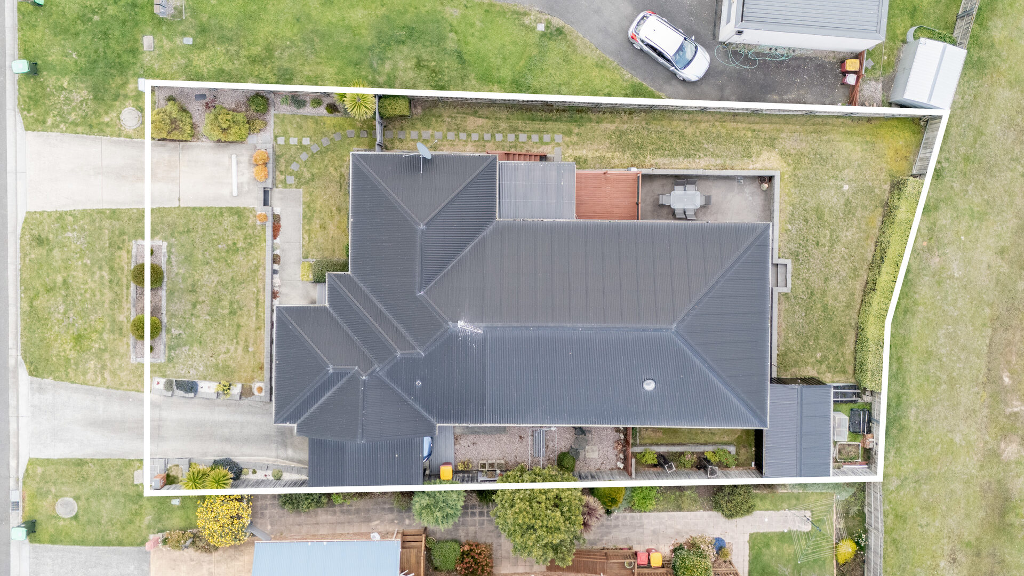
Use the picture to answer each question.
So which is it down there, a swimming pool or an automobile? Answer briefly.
automobile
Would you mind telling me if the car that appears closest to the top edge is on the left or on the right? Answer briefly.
right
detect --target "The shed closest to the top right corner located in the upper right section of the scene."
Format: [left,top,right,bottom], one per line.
[890,36,968,111]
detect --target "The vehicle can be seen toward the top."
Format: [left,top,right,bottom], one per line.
[624,10,709,84]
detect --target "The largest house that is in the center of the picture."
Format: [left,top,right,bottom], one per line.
[271,151,773,442]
